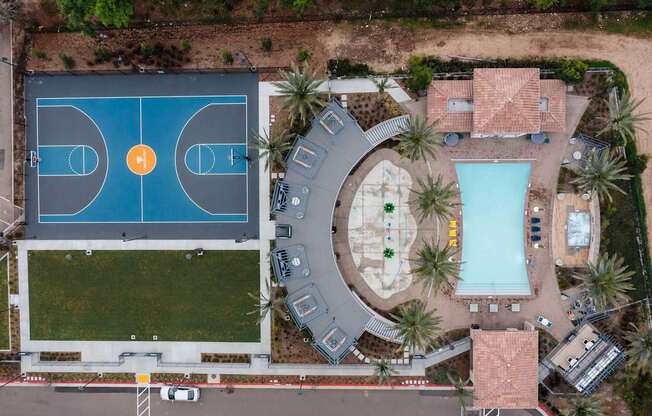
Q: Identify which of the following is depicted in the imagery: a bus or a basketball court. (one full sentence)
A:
Visible in the photo is a basketball court.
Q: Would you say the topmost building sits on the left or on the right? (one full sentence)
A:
You can find the topmost building on the right side of the picture.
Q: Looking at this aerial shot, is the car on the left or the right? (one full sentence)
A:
The car sits on the left side.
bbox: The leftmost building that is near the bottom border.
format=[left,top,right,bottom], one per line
[468,329,539,410]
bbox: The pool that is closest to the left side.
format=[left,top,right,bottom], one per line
[452,158,535,299]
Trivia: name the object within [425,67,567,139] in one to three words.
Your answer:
building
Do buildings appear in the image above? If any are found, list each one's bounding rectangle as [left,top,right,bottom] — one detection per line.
[425,67,567,139]
[468,329,539,410]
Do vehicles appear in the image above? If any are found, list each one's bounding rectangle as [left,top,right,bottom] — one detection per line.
[160,384,201,403]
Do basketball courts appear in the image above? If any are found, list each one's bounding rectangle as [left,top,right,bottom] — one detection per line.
[24,72,259,240]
